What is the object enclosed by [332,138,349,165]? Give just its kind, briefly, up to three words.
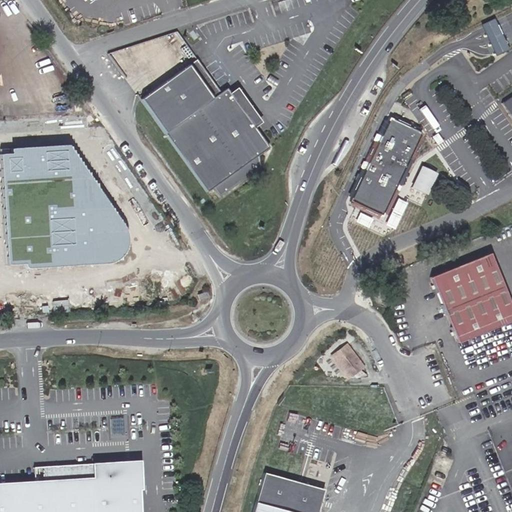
vehicle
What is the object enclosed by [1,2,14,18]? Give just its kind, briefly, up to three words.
vehicle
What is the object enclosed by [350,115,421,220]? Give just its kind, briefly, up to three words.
building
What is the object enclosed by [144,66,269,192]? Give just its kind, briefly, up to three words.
building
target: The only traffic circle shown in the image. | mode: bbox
[202,254,326,381]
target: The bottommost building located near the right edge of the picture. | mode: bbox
[433,252,512,343]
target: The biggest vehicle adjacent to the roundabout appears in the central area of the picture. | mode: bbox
[272,238,286,255]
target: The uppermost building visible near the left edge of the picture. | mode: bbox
[3,145,131,270]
